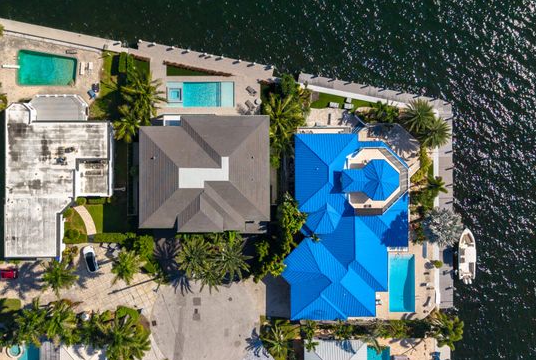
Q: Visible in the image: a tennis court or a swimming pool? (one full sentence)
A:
The one in the frame is a swimming pool.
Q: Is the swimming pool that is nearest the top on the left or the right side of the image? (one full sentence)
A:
You can find the swimming pool that is nearest the top on the left side of the picture.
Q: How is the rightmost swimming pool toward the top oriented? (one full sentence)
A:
I'd say the rightmost swimming pool toward the top is aligned from side to side in the picture.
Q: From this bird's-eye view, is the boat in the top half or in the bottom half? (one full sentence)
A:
Seen from above, the boat lies in the bottom half of the view.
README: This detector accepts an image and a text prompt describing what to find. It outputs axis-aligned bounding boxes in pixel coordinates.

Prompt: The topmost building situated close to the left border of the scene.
[5,95,115,258]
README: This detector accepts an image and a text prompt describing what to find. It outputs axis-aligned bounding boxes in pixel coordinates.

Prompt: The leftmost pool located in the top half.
[17,49,79,87]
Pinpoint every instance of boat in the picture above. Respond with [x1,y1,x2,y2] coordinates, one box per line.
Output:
[455,227,477,285]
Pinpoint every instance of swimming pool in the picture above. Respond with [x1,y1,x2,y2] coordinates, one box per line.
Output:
[387,252,416,314]
[166,81,235,108]
[21,339,40,360]
[17,49,79,87]
[369,345,392,360]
